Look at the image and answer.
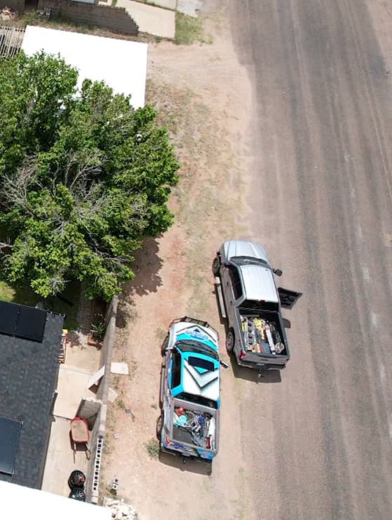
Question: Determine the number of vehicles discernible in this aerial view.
2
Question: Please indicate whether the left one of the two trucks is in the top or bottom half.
bottom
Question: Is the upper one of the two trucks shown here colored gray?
Yes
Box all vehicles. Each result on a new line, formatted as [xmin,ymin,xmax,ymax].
[215,242,310,377]
[156,316,229,467]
